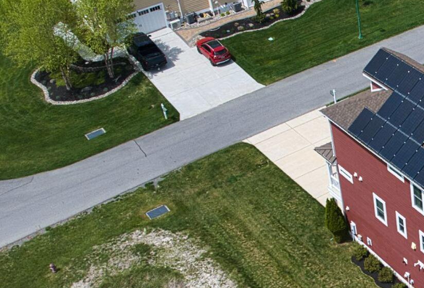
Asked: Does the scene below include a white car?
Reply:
No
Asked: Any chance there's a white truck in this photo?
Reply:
No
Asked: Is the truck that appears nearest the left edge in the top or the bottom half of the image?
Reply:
top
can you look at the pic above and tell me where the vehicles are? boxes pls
[125,31,164,65]
[196,33,229,61]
